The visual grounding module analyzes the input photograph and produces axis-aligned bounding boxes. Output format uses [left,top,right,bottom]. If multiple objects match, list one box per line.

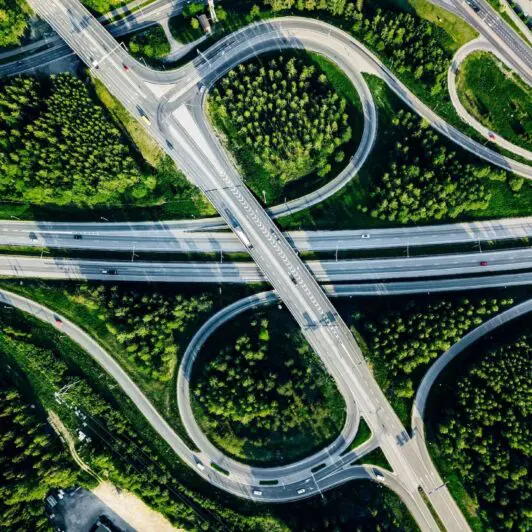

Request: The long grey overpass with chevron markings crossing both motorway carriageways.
[205,176,338,328]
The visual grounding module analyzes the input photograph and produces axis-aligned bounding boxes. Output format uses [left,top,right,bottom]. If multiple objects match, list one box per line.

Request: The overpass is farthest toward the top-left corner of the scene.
[39,0,120,63]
